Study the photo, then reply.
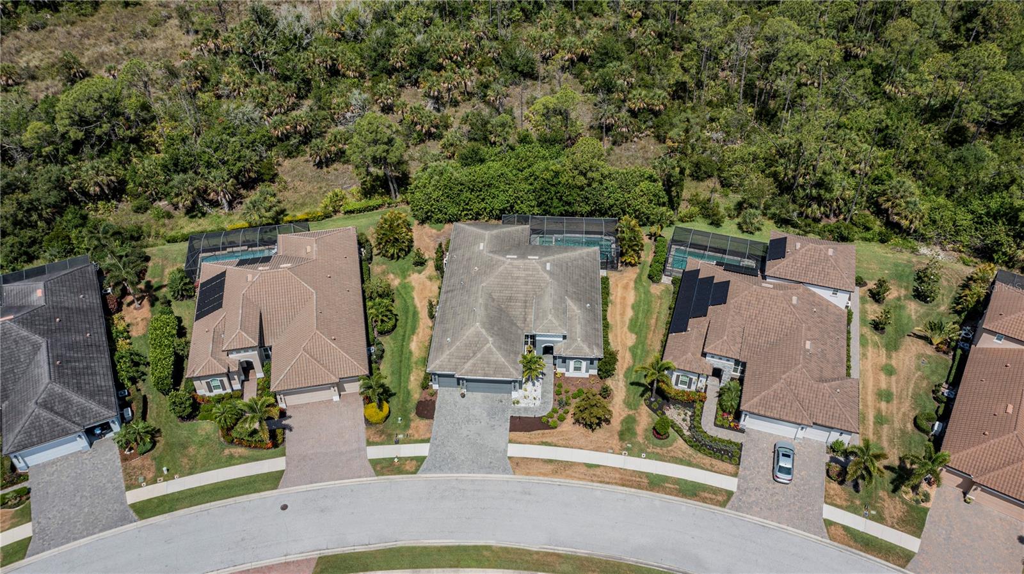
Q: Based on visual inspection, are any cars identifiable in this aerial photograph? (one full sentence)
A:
Yes, the picture does show a car.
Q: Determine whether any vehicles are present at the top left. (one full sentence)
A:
No, I can find no vehicle at the top left.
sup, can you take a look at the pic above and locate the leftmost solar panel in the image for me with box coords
[194,269,227,321]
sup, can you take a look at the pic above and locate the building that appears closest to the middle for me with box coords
[426,222,606,397]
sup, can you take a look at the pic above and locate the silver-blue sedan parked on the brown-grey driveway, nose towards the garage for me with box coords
[772,440,798,485]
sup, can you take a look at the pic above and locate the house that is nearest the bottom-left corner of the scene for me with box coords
[0,264,121,469]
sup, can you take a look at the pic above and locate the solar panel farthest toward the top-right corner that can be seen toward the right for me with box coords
[767,237,786,261]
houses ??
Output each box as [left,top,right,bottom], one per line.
[426,222,606,397]
[0,264,121,469]
[663,229,860,447]
[936,281,1024,522]
[186,224,370,407]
